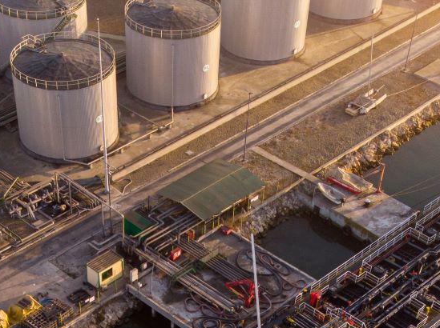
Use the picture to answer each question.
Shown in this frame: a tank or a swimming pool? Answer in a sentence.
The one in the frame is a tank.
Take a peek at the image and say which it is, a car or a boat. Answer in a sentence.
Looking from above, you can make out a boat.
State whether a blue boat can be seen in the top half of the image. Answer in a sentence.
No, I can find no blue boat in the top half of the image.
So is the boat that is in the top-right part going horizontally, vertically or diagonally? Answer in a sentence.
The boat that is in the top-right part has been laid out diagonally relative to the frame.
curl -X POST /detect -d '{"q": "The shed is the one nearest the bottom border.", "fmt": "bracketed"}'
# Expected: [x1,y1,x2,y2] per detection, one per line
[86,250,124,288]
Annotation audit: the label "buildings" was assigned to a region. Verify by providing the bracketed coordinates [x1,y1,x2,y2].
[86,250,124,288]
[157,159,265,238]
